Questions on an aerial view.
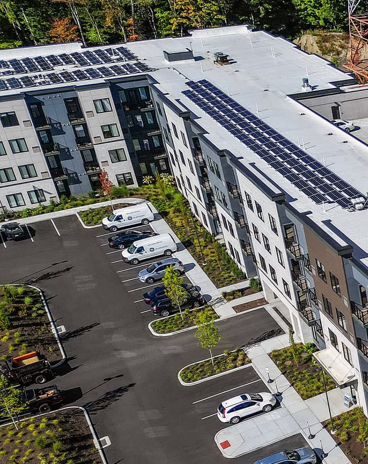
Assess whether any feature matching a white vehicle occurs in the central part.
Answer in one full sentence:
Yes, the scene does show a white vehicle in the central part.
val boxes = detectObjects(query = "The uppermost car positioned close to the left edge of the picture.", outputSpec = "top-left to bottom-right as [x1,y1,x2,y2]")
[0,221,24,241]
